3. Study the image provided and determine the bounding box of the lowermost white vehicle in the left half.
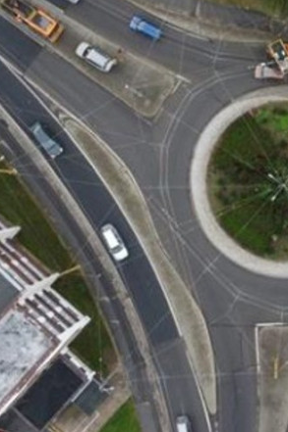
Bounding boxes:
[102,225,127,260]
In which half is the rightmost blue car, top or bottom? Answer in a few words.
top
